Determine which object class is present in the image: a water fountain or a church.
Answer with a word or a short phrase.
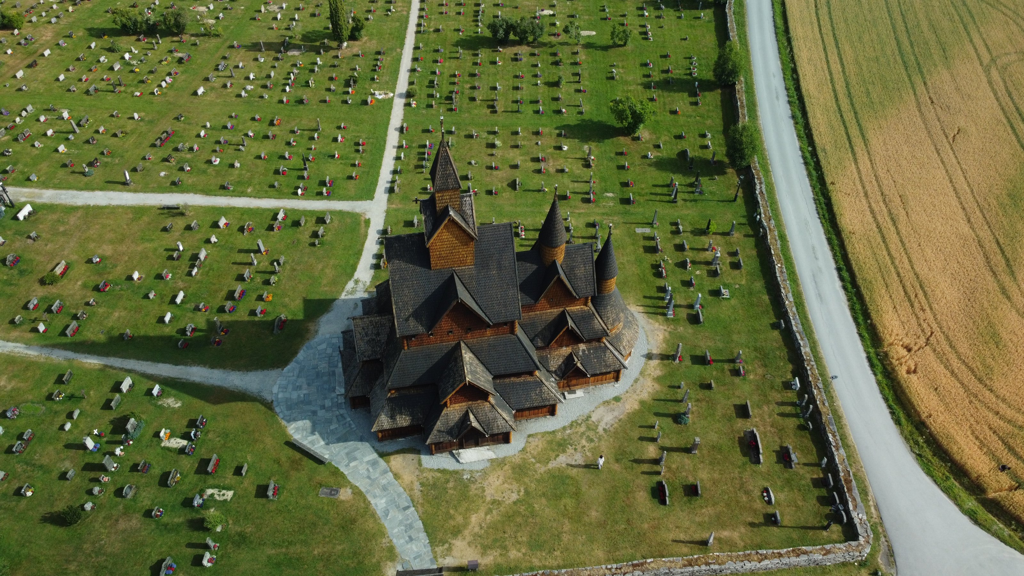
church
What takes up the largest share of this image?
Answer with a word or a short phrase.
grass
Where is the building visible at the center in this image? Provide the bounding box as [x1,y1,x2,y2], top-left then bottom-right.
[337,108,641,456]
